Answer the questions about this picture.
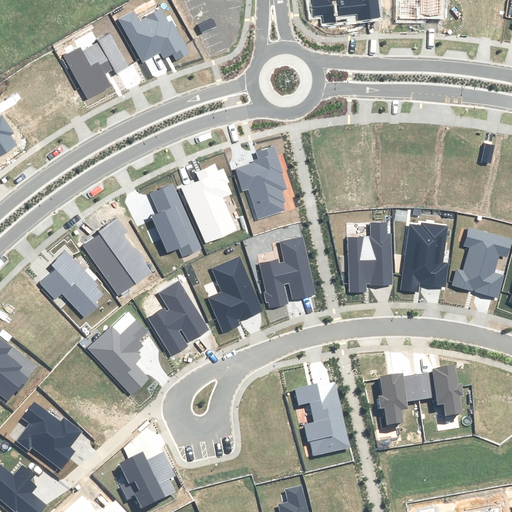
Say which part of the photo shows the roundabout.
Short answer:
top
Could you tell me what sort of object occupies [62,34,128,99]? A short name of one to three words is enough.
house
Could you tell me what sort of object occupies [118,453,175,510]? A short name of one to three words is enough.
house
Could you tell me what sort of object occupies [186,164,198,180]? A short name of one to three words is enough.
vehicle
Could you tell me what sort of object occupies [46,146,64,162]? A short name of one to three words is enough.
vehicle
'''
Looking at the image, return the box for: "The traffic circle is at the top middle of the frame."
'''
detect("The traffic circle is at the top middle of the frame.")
[252,47,319,114]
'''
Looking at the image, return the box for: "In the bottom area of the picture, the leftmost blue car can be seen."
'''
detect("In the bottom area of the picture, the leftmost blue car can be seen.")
[204,350,218,364]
